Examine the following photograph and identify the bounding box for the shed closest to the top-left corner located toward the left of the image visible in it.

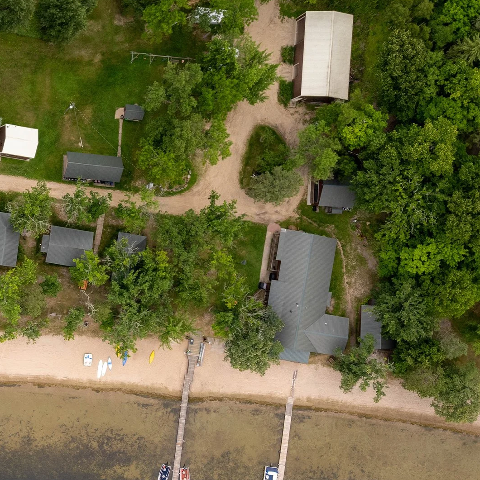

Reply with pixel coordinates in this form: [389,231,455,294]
[0,124,38,163]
